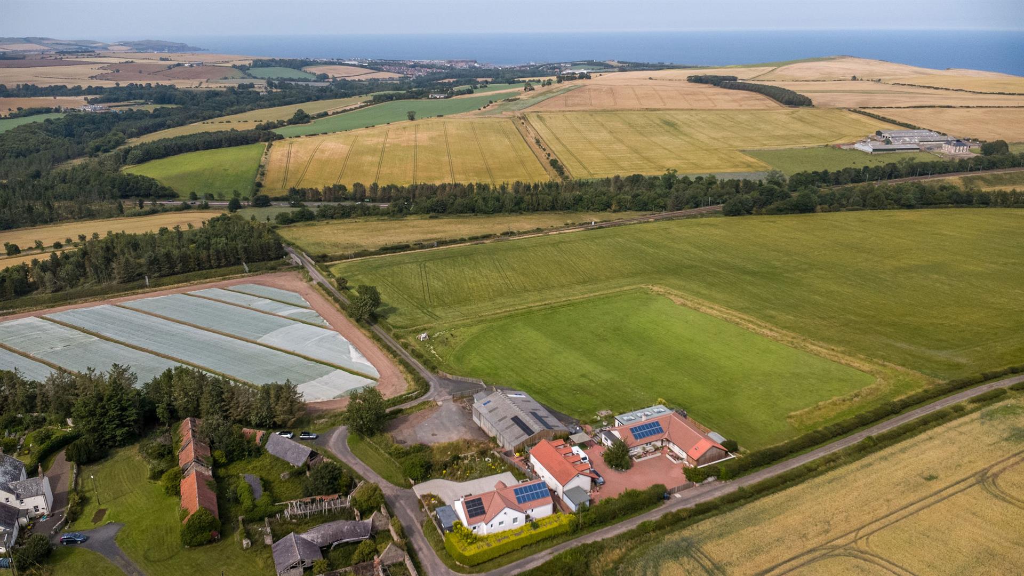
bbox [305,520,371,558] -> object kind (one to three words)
building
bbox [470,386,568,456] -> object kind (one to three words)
barn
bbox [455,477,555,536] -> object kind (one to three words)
house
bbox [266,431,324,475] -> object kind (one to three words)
barn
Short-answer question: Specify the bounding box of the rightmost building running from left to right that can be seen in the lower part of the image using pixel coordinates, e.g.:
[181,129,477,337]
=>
[589,405,729,468]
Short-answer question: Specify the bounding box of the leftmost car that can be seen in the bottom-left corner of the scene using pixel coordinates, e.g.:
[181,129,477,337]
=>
[60,534,89,547]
